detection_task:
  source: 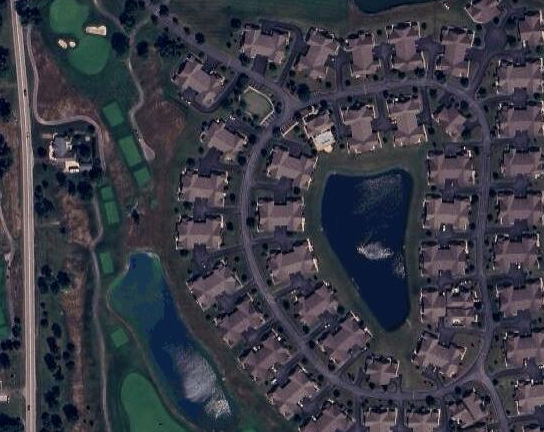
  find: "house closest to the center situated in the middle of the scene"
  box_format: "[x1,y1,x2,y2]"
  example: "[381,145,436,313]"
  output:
[256,197,307,234]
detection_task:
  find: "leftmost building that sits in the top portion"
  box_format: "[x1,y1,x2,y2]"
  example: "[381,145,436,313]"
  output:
[48,136,74,158]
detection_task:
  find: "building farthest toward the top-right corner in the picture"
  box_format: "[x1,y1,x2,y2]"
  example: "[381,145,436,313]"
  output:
[515,11,544,45]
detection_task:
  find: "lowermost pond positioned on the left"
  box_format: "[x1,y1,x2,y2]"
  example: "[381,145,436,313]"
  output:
[108,252,231,432]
